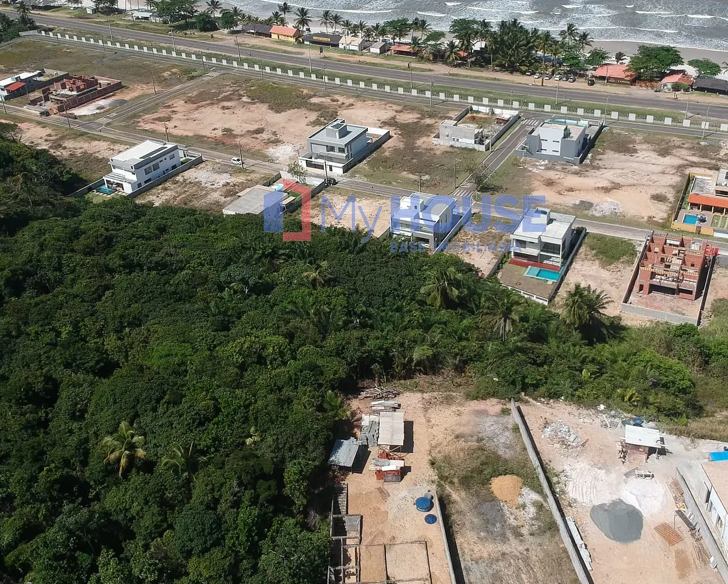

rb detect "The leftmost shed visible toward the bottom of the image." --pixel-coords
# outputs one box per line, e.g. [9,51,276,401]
[330,439,359,477]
